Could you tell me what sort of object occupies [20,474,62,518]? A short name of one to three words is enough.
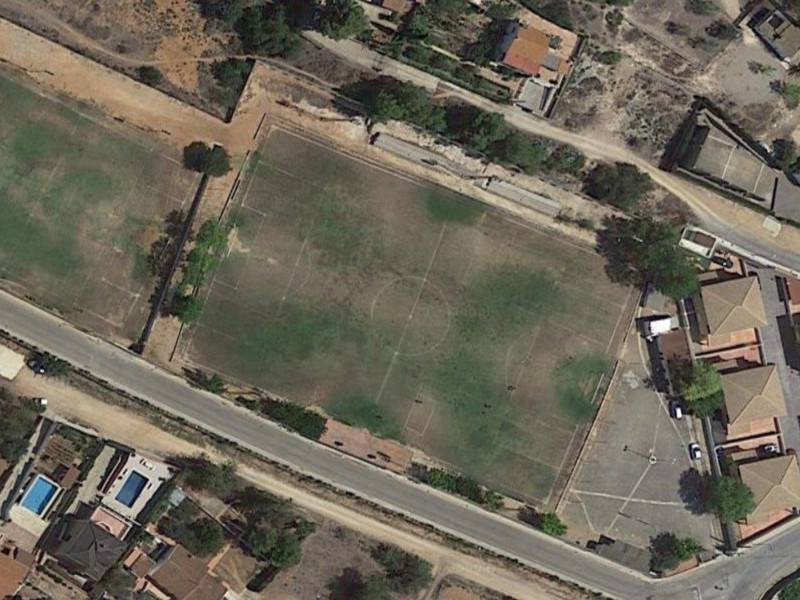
swimming pool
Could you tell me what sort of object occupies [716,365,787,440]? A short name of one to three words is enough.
house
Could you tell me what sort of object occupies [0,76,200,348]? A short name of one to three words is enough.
soccer field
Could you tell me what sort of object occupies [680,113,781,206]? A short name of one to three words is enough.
tennis court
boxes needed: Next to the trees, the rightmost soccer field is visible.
[172,118,645,509]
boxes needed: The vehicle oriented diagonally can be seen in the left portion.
[26,355,44,371]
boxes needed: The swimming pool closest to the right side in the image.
[99,452,177,521]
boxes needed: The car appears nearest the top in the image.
[715,255,730,269]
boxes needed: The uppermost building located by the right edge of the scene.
[746,9,800,62]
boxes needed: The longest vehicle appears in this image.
[649,319,679,336]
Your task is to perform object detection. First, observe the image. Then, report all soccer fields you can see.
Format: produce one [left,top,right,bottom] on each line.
[0,76,200,348]
[172,118,645,509]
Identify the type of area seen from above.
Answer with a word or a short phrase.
sports ground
